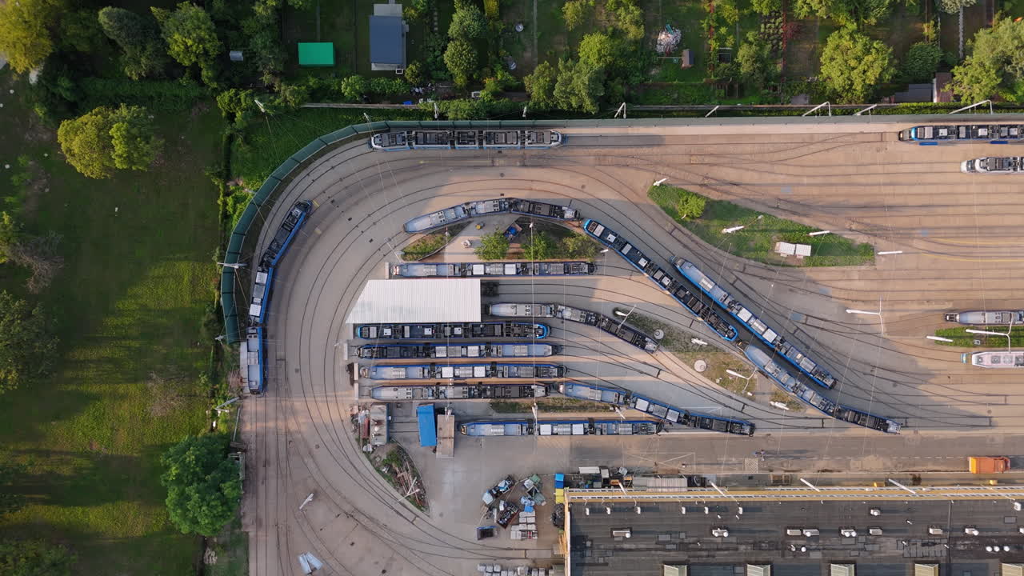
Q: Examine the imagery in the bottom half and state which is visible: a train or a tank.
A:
train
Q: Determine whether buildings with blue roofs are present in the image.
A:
Yes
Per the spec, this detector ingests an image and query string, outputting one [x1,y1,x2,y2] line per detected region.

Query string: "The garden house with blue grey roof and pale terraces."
[369,4,408,71]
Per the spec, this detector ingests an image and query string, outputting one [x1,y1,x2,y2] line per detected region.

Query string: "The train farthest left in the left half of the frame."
[245,200,317,393]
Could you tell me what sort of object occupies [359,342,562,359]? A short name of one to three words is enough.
train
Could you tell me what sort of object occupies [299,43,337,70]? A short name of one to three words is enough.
building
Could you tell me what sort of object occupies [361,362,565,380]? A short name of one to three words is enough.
train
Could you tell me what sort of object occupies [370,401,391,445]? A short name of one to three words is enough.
shed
